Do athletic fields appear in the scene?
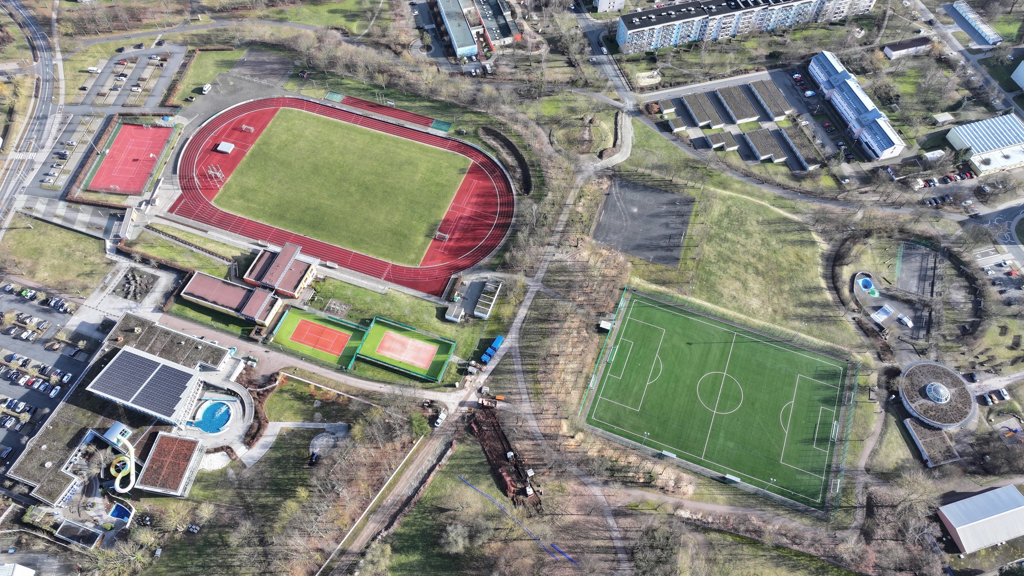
Yes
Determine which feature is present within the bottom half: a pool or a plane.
pool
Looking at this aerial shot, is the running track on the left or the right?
left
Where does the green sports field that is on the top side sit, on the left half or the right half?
left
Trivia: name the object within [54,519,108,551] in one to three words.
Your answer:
shed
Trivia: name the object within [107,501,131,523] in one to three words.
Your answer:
swimming pool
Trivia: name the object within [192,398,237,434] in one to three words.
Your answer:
swimming pool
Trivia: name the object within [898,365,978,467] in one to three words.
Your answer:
building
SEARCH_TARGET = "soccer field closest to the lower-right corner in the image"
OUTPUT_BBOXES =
[577,286,860,521]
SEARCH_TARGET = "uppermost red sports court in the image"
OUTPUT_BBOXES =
[81,121,174,193]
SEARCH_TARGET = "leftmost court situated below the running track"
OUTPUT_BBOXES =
[272,308,367,369]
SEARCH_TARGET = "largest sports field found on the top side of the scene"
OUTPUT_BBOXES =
[212,109,471,265]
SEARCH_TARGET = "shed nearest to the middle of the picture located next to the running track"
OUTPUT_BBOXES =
[474,278,502,320]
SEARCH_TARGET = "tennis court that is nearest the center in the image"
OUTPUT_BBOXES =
[358,320,455,380]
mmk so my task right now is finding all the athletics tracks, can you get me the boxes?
[167,97,514,298]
